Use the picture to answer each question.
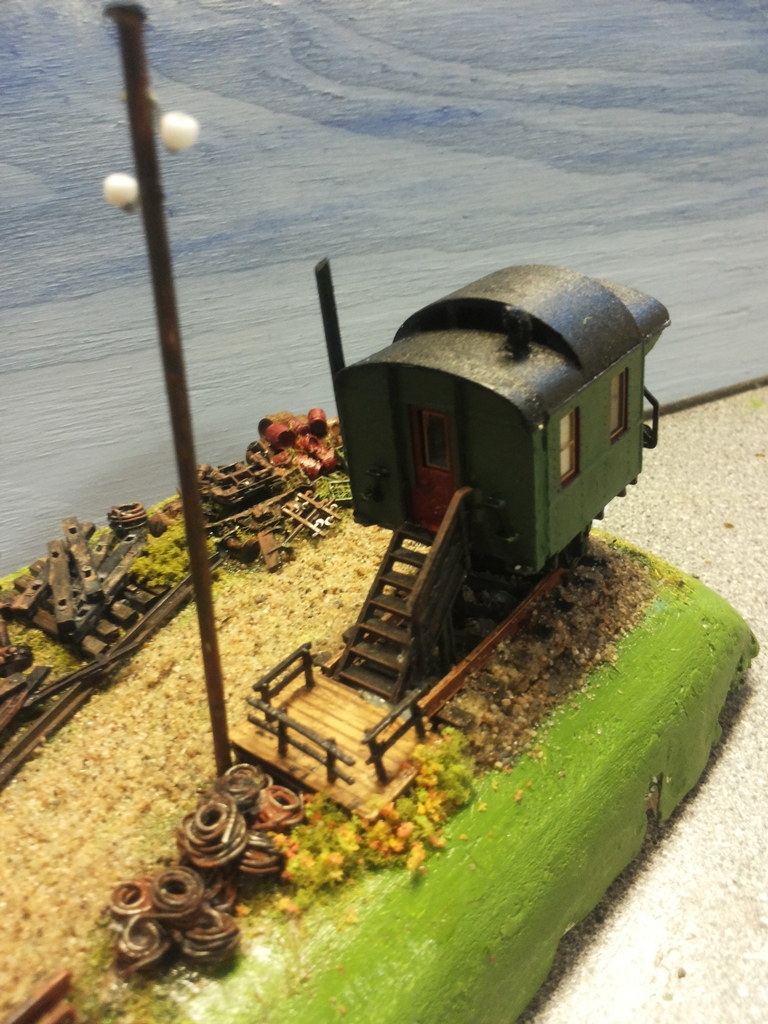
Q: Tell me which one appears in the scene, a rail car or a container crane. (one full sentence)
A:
I can see a rail car in this picture.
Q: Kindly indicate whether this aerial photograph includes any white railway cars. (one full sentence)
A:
No, no white railway car is visible in the scene.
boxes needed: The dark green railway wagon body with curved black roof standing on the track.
[317,258,669,592]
